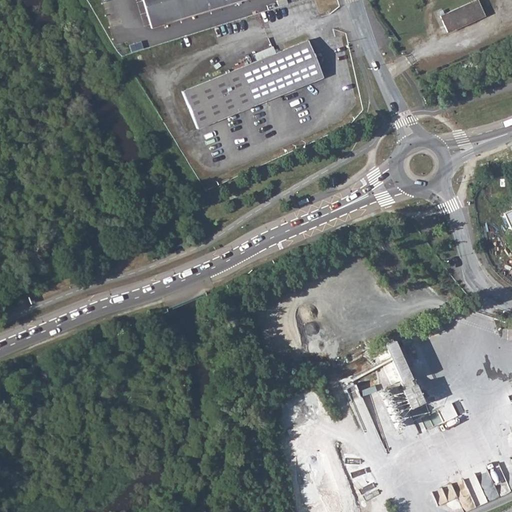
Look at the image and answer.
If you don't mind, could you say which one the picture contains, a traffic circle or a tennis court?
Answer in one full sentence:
This aerial view contains a traffic circle.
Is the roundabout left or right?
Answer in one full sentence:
The roundabout appears in the right half of the scene.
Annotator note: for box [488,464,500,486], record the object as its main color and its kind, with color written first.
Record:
white vehicle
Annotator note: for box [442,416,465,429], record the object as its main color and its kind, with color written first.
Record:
white vehicle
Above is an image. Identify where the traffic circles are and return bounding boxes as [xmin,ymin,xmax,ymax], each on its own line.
[372,120,471,209]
